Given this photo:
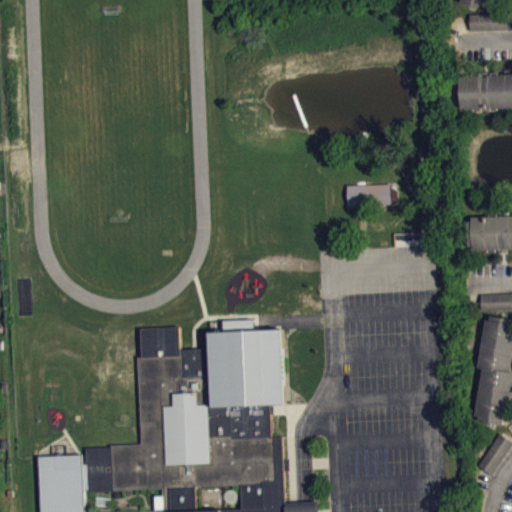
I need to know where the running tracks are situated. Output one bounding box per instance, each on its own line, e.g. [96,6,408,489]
[26,0,212,314]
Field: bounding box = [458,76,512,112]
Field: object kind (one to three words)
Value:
house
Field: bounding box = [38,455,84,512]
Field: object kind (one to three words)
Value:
building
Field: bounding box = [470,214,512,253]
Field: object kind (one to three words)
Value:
house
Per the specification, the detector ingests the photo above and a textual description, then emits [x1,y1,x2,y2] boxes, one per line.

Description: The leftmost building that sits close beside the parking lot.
[82,320,284,512]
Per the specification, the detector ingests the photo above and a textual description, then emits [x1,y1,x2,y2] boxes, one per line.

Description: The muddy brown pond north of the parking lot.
[264,65,414,136]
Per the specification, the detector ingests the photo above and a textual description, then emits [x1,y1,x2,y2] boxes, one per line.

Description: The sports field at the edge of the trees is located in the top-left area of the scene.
[56,0,181,221]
